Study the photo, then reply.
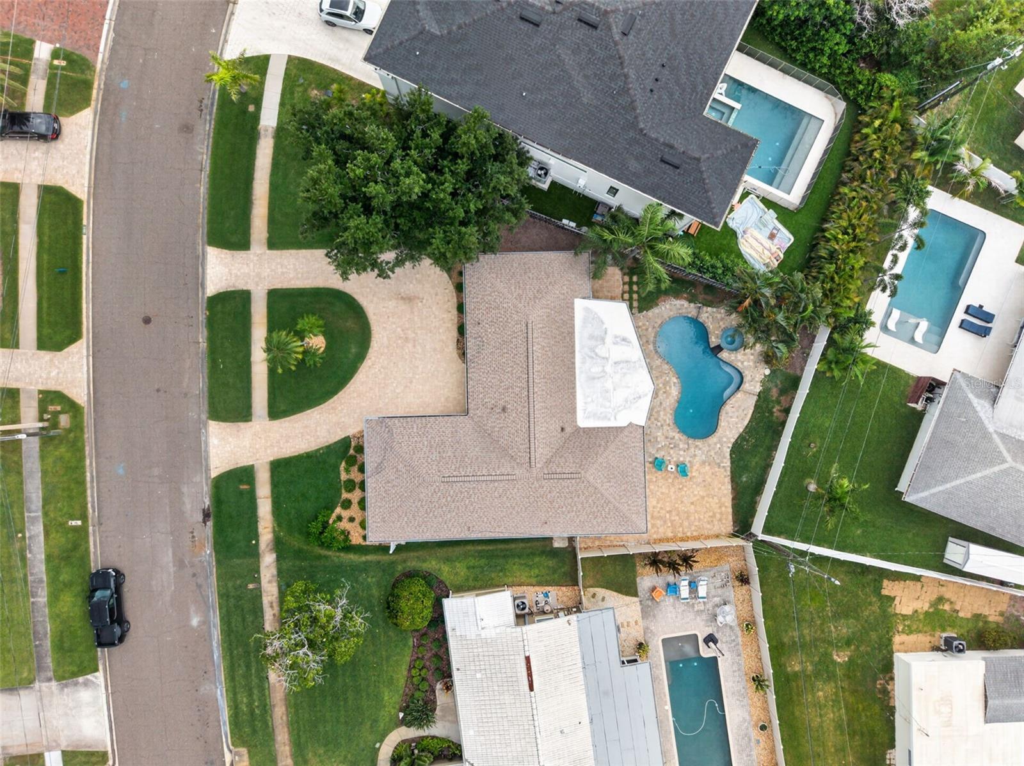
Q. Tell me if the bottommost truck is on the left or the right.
left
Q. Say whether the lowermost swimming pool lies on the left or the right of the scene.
right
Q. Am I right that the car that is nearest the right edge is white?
Yes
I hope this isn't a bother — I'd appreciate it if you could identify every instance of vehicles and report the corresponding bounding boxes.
[313,0,385,33]
[89,565,133,647]
[0,108,64,144]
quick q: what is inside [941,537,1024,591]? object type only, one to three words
shed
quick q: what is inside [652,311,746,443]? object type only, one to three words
swimming pool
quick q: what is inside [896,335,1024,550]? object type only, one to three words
house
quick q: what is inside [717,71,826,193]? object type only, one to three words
swimming pool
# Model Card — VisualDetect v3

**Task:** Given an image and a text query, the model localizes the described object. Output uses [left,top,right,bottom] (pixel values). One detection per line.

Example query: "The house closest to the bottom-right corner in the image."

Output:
[892,642,1024,766]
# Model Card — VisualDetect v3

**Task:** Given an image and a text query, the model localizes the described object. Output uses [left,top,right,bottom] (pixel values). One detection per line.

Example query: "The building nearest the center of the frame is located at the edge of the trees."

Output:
[363,249,656,553]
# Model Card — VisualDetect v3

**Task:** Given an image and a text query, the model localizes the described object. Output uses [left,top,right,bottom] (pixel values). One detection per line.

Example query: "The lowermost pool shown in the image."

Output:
[659,630,736,766]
